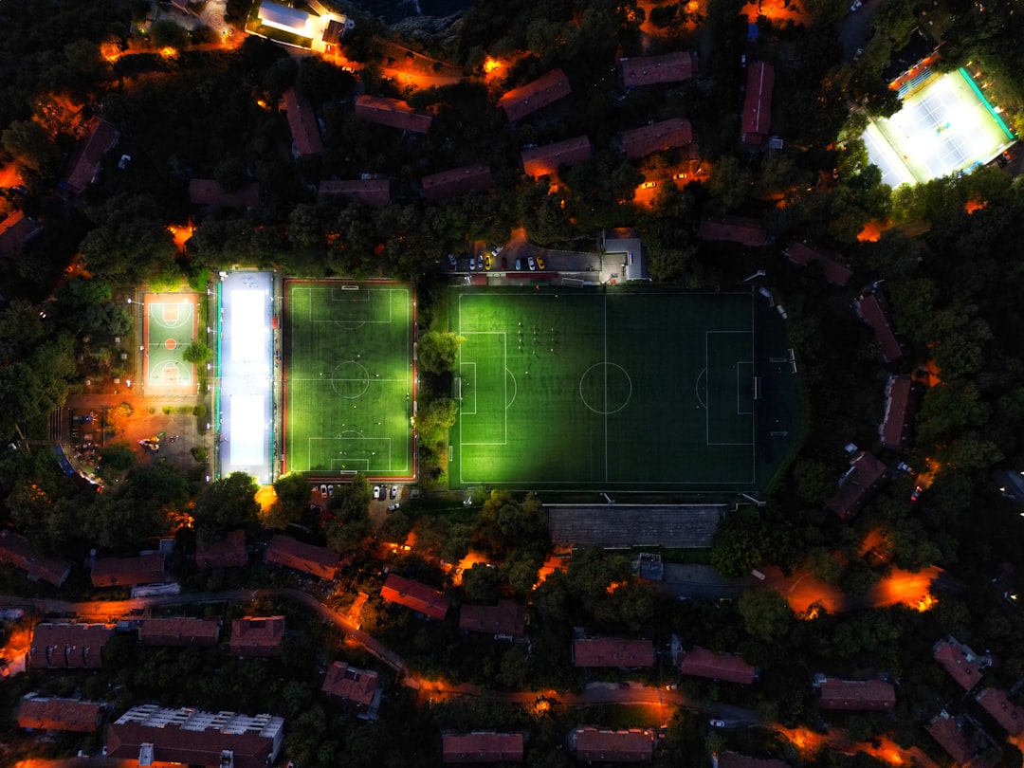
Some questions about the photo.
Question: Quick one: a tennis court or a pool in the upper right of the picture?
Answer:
tennis court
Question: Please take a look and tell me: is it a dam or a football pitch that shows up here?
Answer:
football pitch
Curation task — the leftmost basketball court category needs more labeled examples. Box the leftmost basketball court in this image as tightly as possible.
[144,294,197,395]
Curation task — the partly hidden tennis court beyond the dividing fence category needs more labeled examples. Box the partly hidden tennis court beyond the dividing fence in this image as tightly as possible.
[827,102,916,207]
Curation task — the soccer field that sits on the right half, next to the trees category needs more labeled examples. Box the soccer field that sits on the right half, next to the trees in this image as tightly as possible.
[447,286,806,491]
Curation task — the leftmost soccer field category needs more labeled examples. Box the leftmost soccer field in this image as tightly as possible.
[284,279,416,482]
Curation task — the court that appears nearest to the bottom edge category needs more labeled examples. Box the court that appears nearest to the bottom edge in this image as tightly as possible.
[219,378,273,484]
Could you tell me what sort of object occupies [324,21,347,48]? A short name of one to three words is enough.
building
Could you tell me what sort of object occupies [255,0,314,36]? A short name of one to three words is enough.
building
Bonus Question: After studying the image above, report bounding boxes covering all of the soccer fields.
[284,279,416,482]
[447,286,806,491]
